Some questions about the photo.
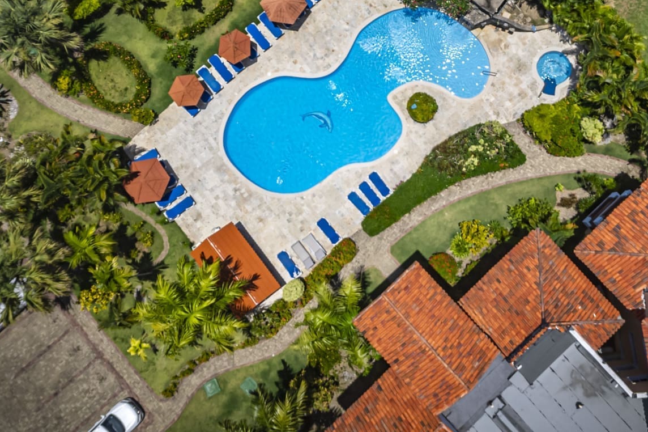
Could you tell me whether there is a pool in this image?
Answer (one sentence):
Yes, looking at the shot, I can spot a pool.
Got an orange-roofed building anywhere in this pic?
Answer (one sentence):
Yes, an orange-roofed building is visible in the scene.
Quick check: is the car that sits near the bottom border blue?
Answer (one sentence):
No, the color of the car that sits near the bottom border is white.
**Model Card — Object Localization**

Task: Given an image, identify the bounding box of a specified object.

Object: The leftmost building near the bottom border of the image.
[327,260,501,432]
